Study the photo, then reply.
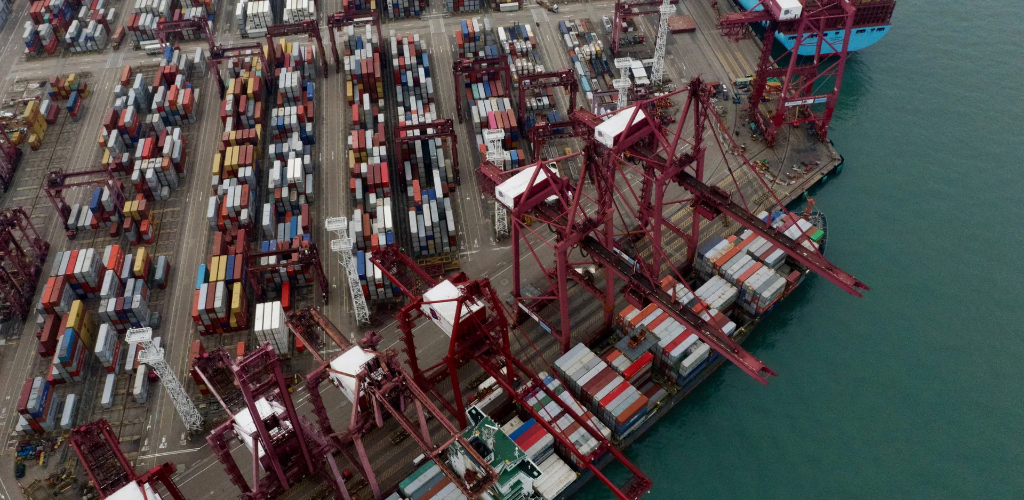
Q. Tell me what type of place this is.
port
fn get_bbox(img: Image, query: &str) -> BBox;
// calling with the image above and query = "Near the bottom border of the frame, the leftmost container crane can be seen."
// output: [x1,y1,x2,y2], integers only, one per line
[66,417,193,500]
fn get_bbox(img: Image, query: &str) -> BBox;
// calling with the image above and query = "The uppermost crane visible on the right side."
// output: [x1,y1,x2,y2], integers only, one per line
[610,0,664,58]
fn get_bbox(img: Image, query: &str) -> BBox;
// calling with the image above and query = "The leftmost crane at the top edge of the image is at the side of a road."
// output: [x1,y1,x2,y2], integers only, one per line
[147,14,213,69]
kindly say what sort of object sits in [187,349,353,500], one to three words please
container crane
